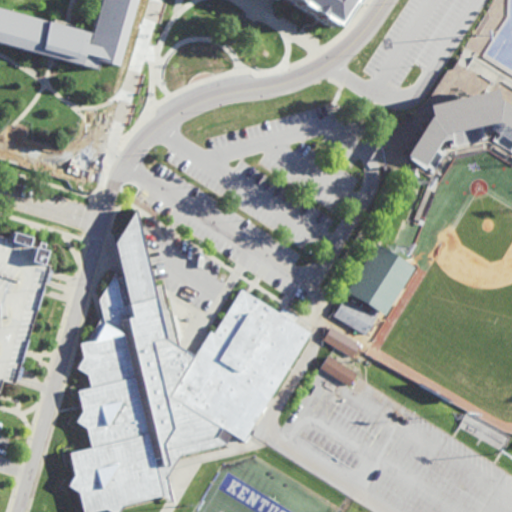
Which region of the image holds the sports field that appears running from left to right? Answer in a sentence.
The sports field that appears running from left to right is in the bottom part of the image.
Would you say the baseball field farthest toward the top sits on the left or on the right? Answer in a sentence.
The baseball field farthest toward the top is on the right side of the image.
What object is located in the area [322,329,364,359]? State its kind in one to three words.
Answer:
house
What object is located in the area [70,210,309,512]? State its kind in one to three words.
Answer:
building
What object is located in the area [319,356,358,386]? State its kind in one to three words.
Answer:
house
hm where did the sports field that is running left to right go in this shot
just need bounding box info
[192,455,348,512]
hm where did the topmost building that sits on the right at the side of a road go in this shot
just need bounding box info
[303,0,356,29]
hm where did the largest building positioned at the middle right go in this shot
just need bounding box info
[352,245,416,315]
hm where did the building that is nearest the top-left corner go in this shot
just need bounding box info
[0,0,141,69]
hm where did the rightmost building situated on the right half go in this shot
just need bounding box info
[458,414,509,449]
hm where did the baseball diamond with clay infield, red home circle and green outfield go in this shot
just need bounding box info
[366,152,512,434]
